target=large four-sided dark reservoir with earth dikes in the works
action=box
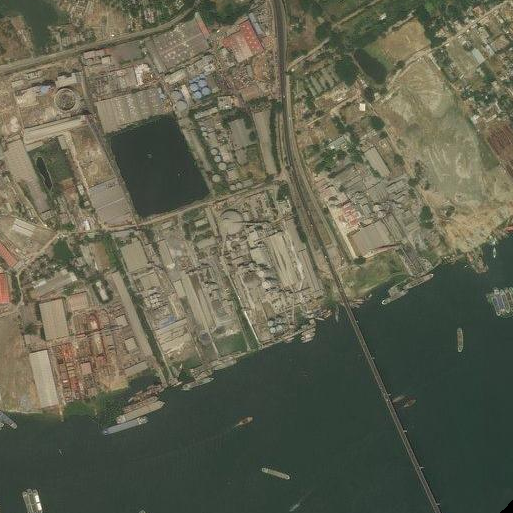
[109,115,209,216]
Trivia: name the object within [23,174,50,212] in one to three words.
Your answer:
building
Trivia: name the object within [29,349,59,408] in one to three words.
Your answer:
building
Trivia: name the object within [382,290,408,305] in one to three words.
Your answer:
ship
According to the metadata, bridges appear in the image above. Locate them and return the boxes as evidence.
[338,287,441,513]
